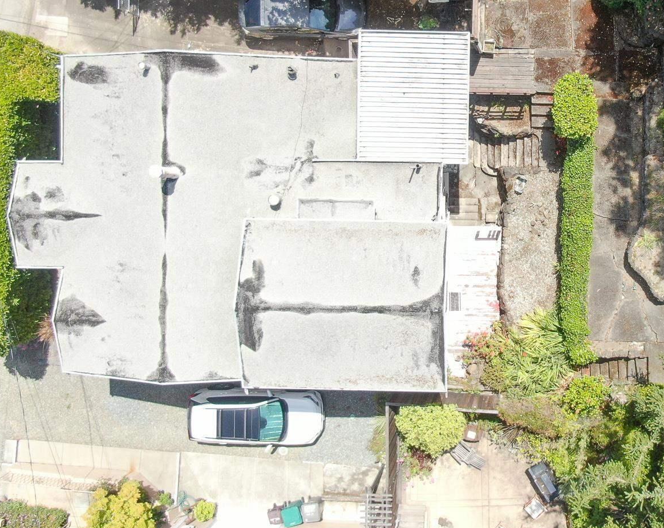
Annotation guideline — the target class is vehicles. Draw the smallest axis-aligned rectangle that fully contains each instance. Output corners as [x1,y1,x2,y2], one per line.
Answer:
[188,384,326,454]
[237,0,369,48]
